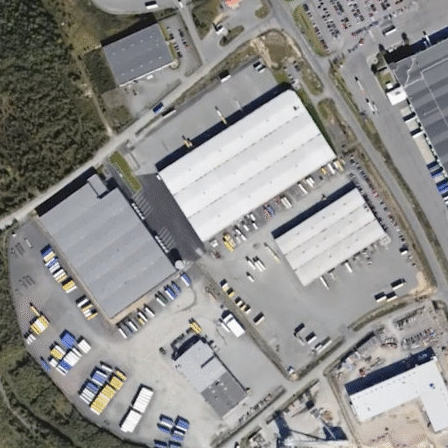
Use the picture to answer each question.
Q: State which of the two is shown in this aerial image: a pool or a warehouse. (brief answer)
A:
warehouse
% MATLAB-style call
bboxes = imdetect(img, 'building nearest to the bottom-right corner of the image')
[350,357,448,431]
